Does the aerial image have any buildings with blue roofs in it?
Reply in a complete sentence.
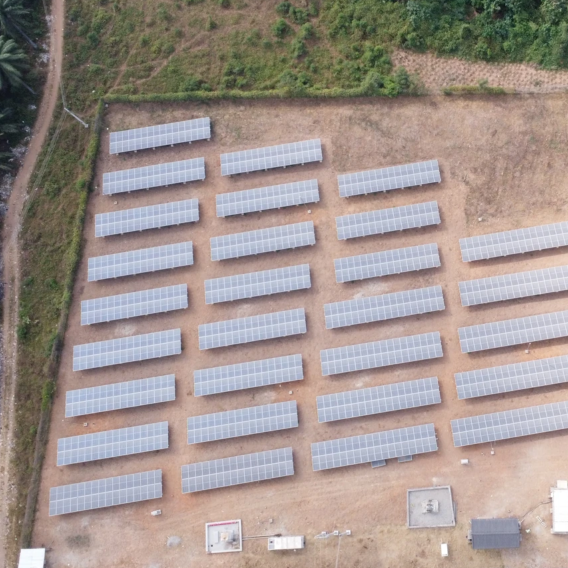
No, the frame has no building with a blue roof in it.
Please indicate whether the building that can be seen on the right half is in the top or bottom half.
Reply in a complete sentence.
It is in the bottom half that the building that can be seen on the right half appears.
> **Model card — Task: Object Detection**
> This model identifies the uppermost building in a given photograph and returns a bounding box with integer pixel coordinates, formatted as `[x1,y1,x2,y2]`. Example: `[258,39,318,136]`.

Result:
[466,510,521,550]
